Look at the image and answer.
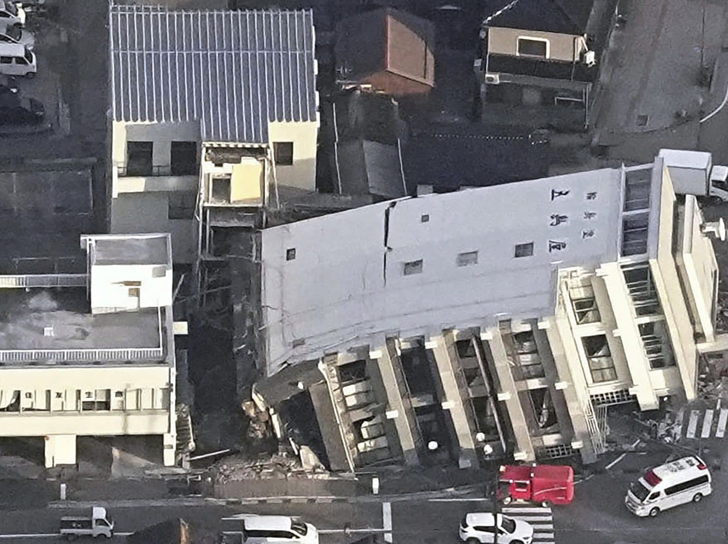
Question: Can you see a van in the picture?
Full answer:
Yes, looking at the shot, I can spot a van.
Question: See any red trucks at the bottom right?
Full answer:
Yes, a red truck is visible at the bottom right.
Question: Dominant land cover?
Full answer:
Most of the picture is covered by buildings.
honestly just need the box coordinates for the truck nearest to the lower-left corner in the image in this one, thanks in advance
[57,503,116,540]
